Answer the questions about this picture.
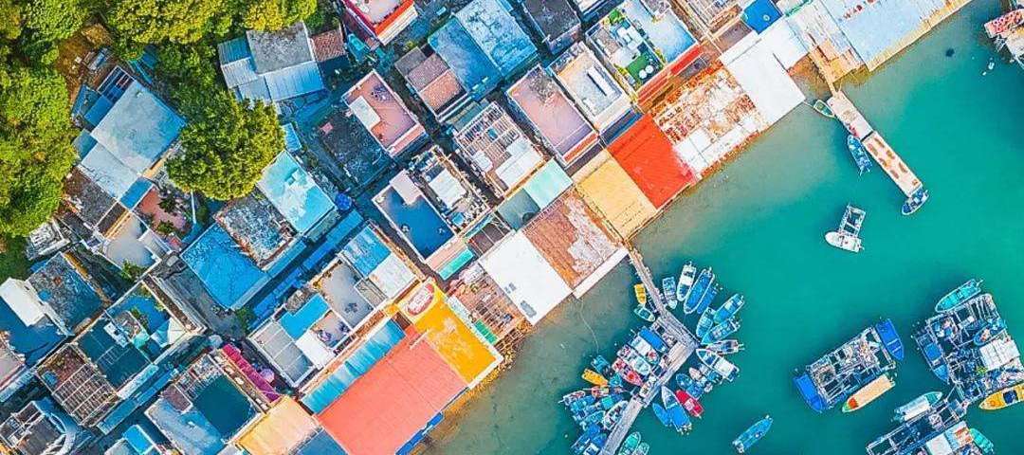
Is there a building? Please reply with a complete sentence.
Yes, there is a building in the image.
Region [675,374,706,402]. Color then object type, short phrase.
blue boat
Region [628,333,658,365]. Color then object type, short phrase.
white boat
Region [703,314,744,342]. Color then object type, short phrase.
blue boat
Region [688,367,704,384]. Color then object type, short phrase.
white boat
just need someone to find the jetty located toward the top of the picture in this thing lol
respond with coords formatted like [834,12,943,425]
[808,52,921,196]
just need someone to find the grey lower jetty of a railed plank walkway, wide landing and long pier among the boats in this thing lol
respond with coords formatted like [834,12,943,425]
[602,244,705,455]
